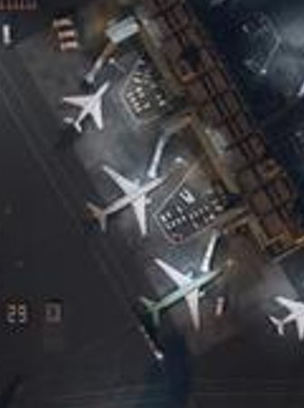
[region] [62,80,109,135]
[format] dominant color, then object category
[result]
white airplane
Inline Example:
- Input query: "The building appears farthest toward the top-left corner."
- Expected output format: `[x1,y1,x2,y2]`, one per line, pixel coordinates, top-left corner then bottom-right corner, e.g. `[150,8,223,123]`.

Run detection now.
[105,16,141,44]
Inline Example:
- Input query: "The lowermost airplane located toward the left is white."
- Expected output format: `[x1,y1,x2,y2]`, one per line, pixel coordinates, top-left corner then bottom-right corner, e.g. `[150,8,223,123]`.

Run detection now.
[77,161,163,233]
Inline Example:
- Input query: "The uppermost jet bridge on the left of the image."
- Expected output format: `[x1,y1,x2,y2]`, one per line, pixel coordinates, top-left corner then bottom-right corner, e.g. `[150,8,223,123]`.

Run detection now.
[83,44,116,86]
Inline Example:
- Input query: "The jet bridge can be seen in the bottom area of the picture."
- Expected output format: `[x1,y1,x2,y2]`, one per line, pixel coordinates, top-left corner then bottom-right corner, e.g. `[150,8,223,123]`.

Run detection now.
[197,222,228,273]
